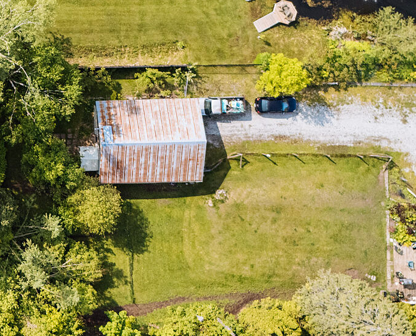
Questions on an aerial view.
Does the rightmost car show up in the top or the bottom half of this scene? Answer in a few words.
top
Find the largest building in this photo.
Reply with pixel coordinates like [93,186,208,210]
[96,98,207,184]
